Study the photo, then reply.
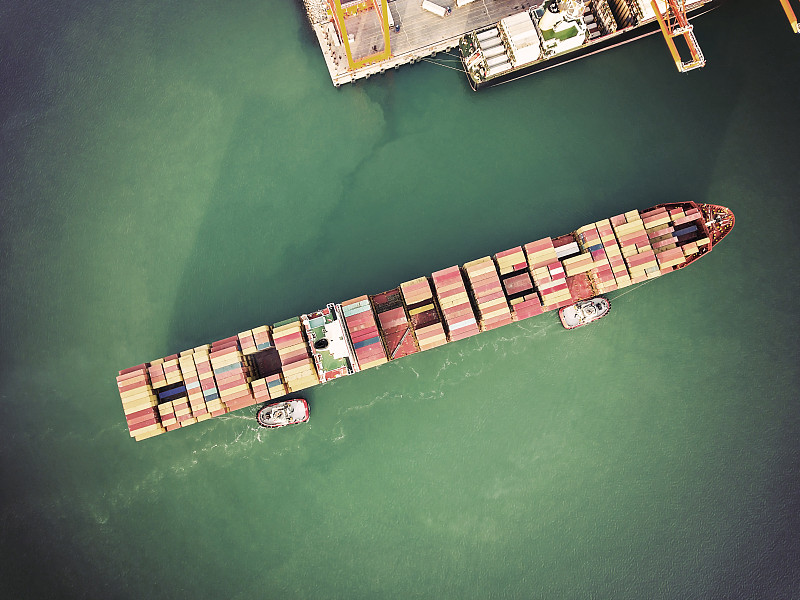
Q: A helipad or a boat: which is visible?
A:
boat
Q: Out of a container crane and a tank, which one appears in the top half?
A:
container crane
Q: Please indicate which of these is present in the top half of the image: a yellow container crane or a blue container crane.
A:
yellow container crane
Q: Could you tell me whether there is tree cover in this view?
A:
No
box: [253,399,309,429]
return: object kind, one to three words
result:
boat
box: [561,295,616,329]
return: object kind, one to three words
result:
boat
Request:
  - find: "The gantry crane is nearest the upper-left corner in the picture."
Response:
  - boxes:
[323,0,396,73]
